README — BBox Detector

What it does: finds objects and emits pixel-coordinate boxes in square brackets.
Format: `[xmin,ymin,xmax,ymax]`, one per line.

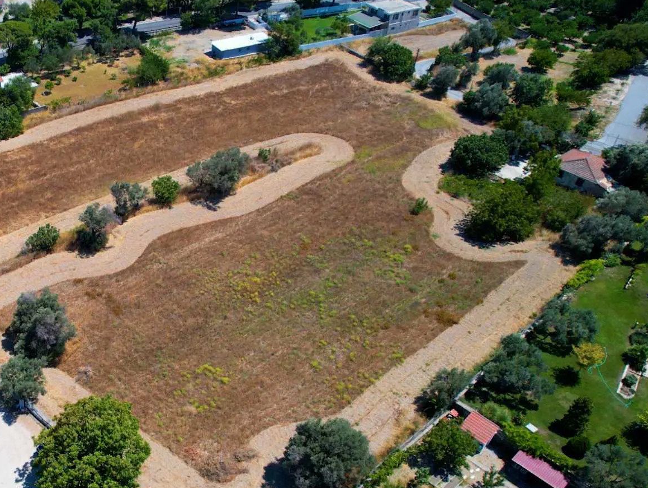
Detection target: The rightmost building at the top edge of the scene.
[366,0,422,34]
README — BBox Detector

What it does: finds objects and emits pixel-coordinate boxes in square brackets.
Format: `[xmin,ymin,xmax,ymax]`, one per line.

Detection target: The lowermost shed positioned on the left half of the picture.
[210,33,273,62]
